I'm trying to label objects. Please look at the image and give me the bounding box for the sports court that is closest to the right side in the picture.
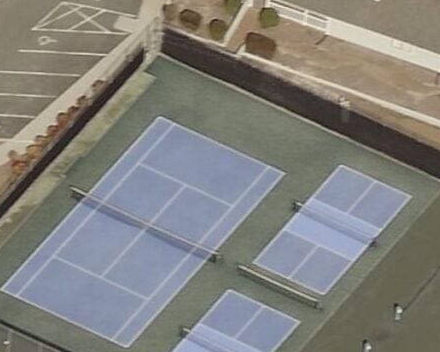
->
[254,164,411,294]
